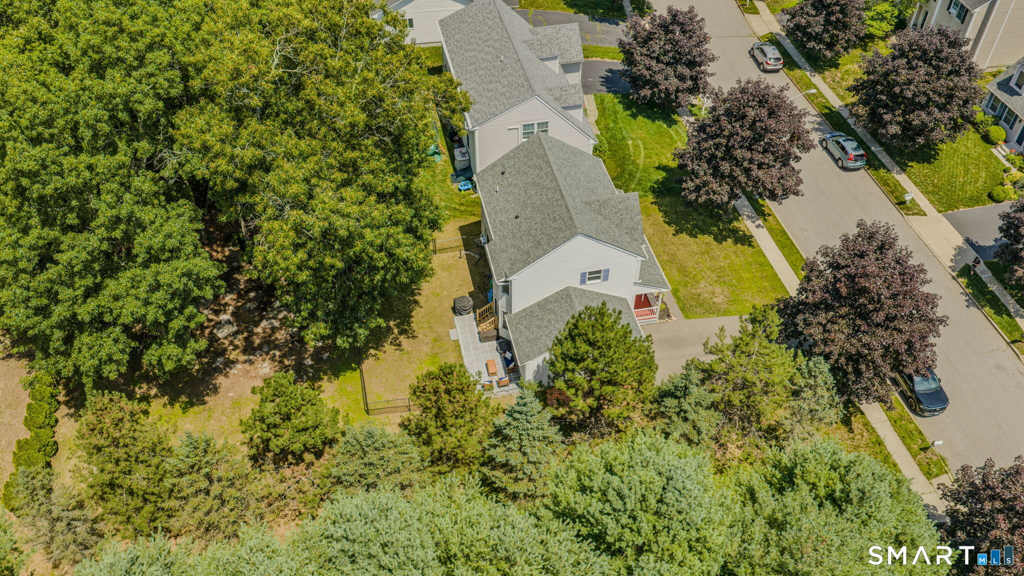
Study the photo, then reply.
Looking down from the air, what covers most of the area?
trees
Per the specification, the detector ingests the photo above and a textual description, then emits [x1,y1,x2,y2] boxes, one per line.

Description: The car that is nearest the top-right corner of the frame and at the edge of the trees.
[818,125,864,164]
